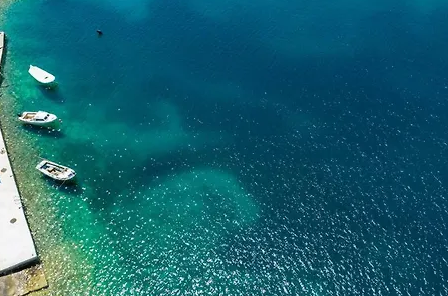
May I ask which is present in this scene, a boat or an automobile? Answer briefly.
boat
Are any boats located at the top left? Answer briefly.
Yes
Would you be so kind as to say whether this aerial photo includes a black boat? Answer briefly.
No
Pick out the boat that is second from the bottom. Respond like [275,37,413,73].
[5,109,66,125]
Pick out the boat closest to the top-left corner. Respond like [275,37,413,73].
[25,62,68,86]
